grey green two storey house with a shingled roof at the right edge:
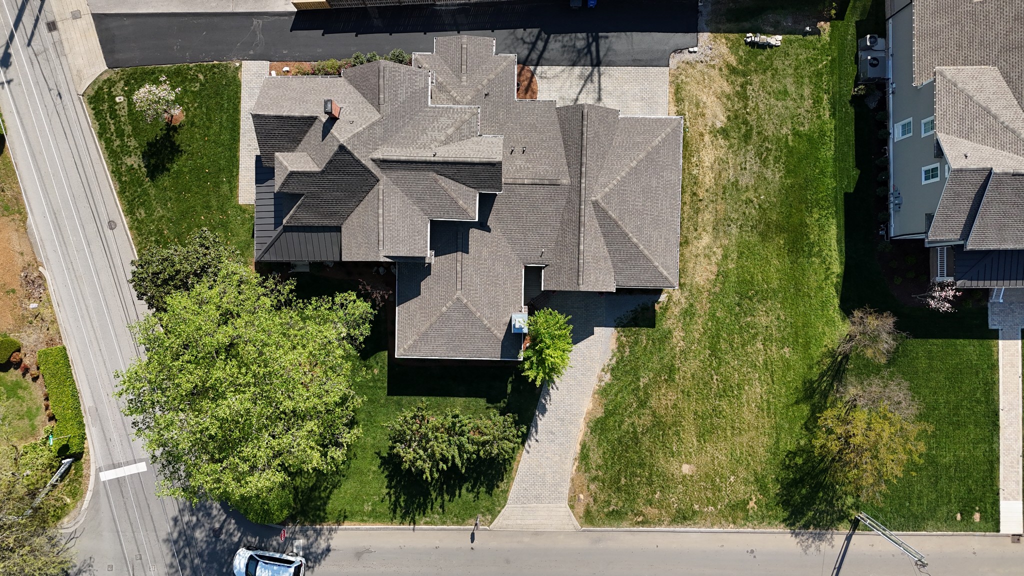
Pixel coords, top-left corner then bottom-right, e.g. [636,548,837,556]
[888,0,1024,304]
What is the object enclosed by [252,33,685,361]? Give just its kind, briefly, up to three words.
house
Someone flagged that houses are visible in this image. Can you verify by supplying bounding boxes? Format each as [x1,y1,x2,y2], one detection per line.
[252,33,685,361]
[888,0,1024,304]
